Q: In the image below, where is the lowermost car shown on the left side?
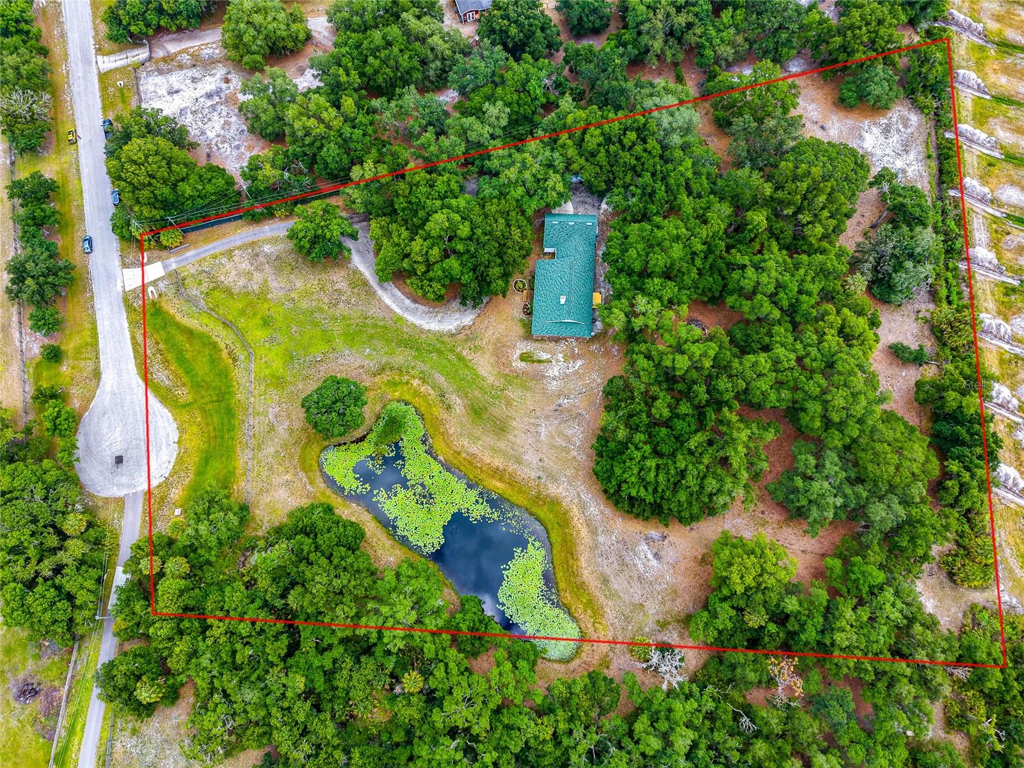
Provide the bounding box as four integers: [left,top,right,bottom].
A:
[81,232,94,253]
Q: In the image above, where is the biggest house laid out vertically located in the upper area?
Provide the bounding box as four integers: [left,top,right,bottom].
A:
[532,213,596,342]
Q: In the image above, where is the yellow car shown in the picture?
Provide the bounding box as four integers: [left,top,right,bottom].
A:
[64,125,78,144]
